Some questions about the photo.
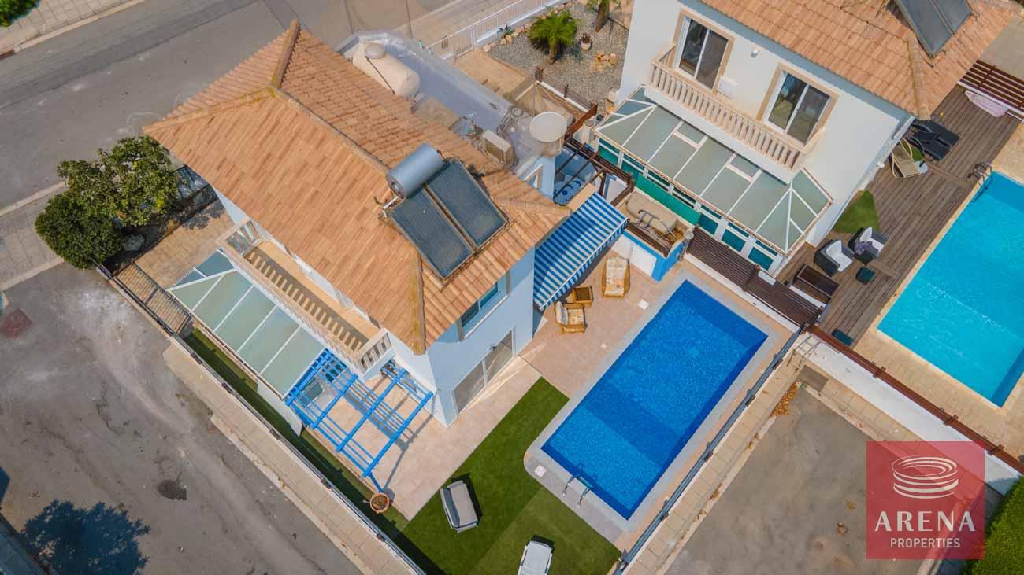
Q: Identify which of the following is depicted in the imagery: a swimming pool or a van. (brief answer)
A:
swimming pool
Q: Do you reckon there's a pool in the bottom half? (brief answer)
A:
Yes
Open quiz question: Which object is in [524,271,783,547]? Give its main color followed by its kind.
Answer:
blue swimming pool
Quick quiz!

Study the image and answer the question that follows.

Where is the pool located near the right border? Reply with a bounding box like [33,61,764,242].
[873,166,1024,422]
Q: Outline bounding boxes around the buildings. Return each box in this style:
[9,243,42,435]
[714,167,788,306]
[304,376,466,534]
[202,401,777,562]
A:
[591,0,1018,286]
[143,17,599,439]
